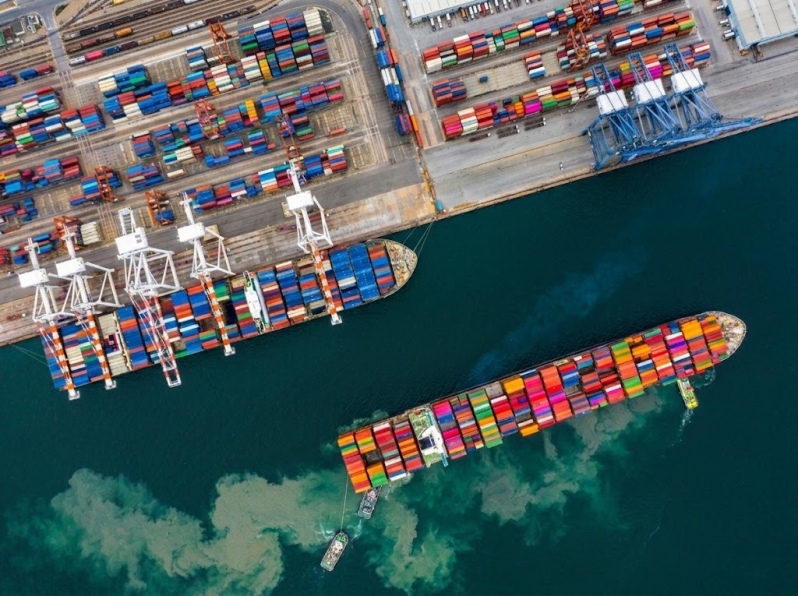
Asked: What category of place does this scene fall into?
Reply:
port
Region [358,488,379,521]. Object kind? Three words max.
boat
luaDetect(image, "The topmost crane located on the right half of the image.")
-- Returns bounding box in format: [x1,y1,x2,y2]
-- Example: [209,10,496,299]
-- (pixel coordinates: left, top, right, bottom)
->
[555,0,595,44]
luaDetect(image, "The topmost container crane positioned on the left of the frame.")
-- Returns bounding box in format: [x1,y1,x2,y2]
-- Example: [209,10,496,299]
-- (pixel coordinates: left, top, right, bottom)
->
[210,20,241,65]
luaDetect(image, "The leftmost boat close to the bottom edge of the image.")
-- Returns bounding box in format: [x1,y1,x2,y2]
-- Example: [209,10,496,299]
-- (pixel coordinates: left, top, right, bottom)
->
[320,533,345,572]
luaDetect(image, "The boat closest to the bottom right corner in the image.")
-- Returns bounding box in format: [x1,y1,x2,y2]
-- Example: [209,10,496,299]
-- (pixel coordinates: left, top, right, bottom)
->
[680,380,697,409]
